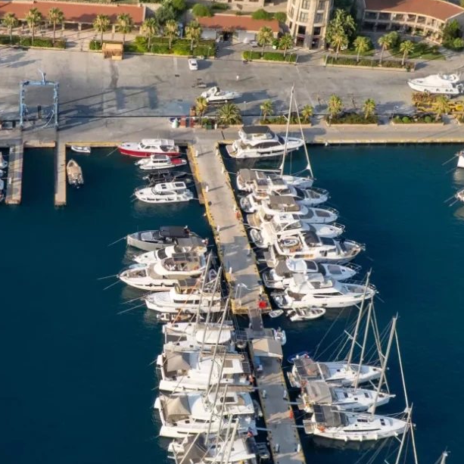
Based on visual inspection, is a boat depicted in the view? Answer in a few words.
Yes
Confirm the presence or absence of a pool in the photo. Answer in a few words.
No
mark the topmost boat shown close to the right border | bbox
[406,69,464,95]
